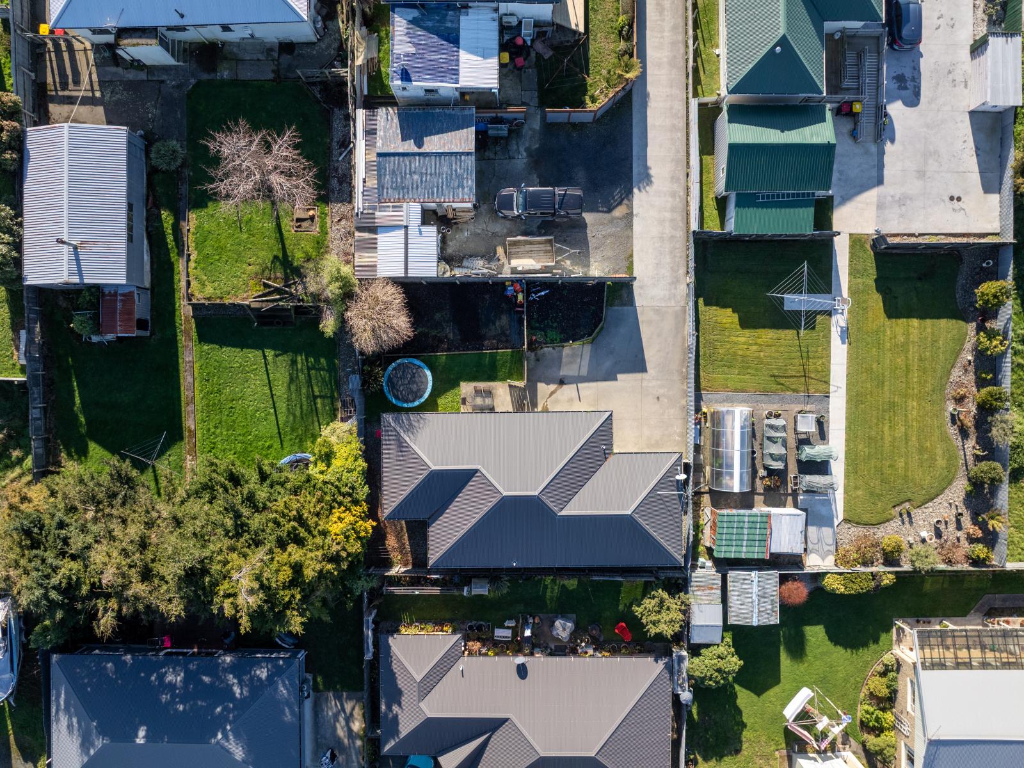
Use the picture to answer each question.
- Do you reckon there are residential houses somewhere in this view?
Yes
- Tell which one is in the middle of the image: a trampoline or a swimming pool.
trampoline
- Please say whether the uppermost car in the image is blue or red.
blue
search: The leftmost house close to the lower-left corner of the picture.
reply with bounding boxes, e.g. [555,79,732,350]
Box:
[48,632,315,768]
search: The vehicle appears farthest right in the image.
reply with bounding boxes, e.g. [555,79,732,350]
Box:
[883,0,925,55]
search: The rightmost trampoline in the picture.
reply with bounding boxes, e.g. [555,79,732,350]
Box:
[384,357,433,407]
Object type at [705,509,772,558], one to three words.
shed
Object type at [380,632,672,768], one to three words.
house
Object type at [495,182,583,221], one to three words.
truck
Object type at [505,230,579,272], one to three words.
trailer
